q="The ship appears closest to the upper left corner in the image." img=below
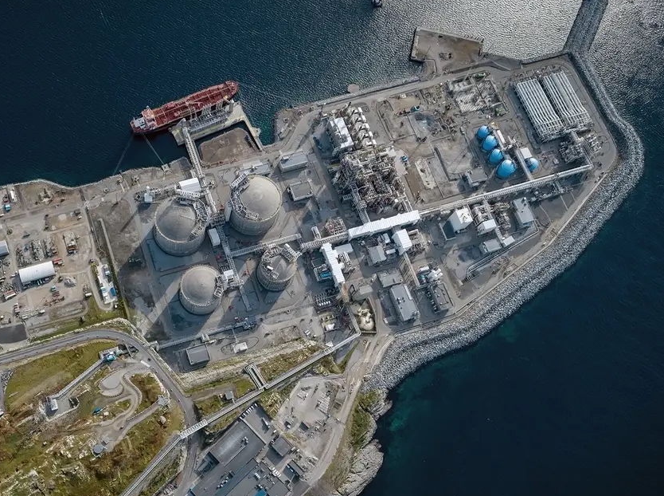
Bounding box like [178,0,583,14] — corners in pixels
[129,83,239,136]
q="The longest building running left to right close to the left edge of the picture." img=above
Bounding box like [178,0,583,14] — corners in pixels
[18,261,55,283]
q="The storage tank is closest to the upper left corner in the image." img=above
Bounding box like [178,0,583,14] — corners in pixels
[152,194,207,257]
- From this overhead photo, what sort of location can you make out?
port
